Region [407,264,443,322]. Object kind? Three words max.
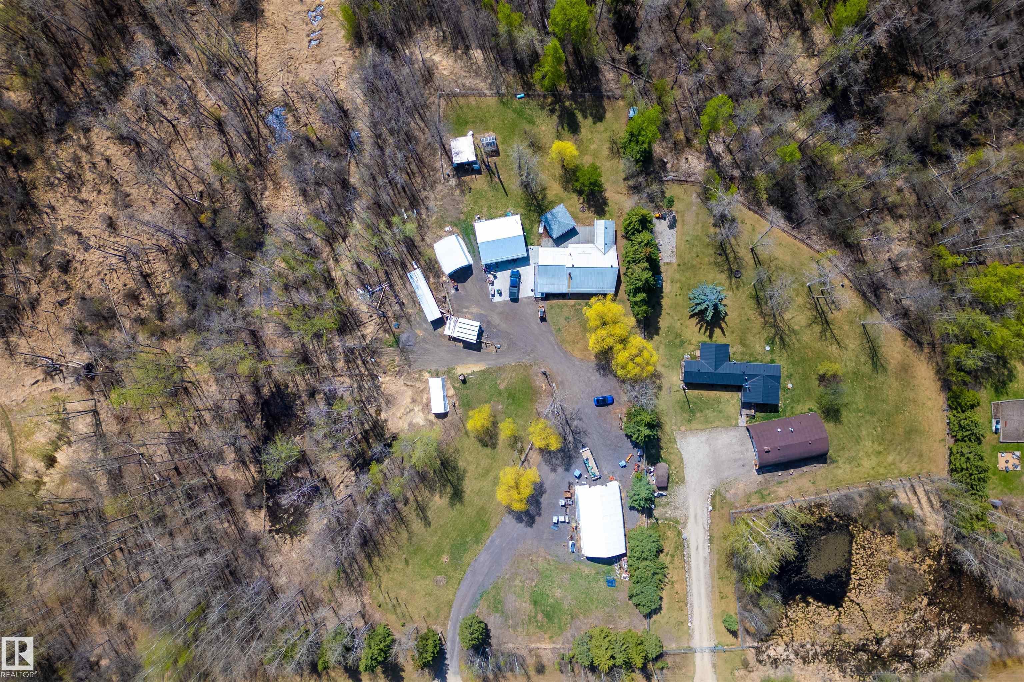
trailer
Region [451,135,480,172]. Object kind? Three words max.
shed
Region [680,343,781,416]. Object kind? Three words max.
house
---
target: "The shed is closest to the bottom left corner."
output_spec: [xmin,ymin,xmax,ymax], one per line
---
[428,379,447,412]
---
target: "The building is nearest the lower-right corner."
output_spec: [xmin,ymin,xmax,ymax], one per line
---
[983,399,1024,442]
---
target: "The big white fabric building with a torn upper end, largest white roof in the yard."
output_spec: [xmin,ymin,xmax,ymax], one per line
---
[573,485,626,559]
